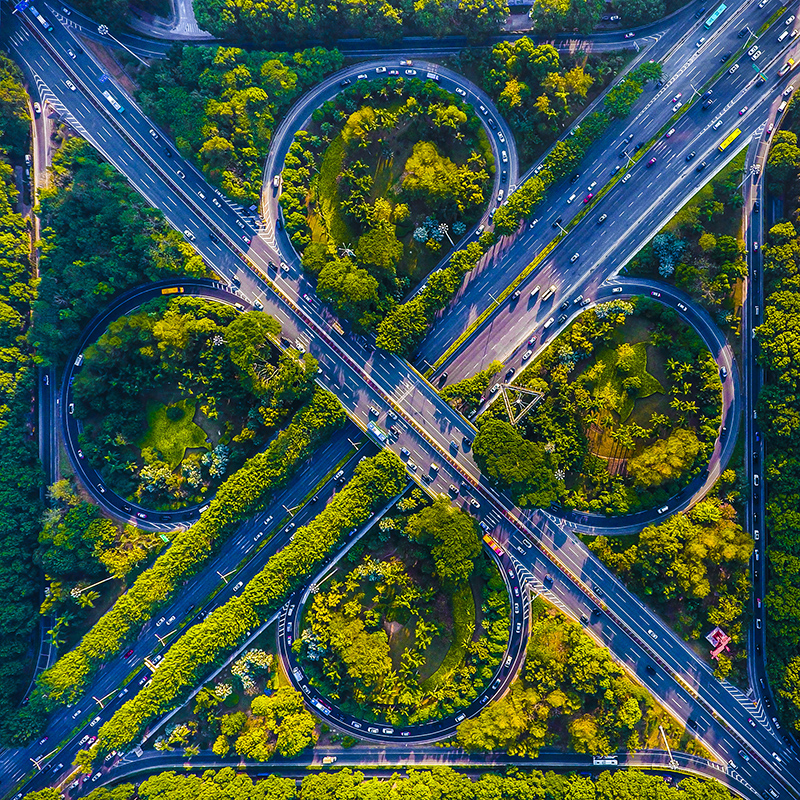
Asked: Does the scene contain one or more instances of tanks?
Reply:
No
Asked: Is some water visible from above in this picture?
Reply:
No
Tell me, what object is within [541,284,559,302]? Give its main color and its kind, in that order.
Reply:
white vehicle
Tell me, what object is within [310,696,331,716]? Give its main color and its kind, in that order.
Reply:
blue bus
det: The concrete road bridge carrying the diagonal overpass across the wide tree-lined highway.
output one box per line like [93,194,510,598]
[305,312,482,500]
